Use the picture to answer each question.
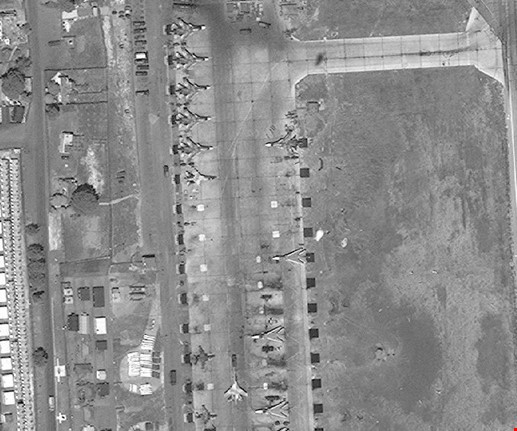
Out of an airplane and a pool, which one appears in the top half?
airplane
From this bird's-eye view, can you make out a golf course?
No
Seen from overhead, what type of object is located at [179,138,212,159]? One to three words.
airplane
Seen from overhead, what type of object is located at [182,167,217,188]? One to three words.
airplane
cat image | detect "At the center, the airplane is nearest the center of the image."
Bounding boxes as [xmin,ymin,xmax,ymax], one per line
[274,248,307,264]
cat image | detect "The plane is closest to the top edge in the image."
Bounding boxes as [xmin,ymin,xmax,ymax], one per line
[172,18,204,39]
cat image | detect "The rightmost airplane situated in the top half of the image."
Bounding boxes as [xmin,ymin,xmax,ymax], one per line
[267,132,299,153]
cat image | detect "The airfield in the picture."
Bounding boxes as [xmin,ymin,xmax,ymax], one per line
[172,0,517,431]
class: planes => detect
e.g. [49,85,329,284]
[175,78,208,99]
[177,109,212,129]
[274,248,307,264]
[253,327,286,343]
[192,346,216,367]
[173,49,208,70]
[255,403,289,419]
[182,167,217,188]
[179,138,212,159]
[195,405,219,426]
[172,18,204,39]
[267,132,299,153]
